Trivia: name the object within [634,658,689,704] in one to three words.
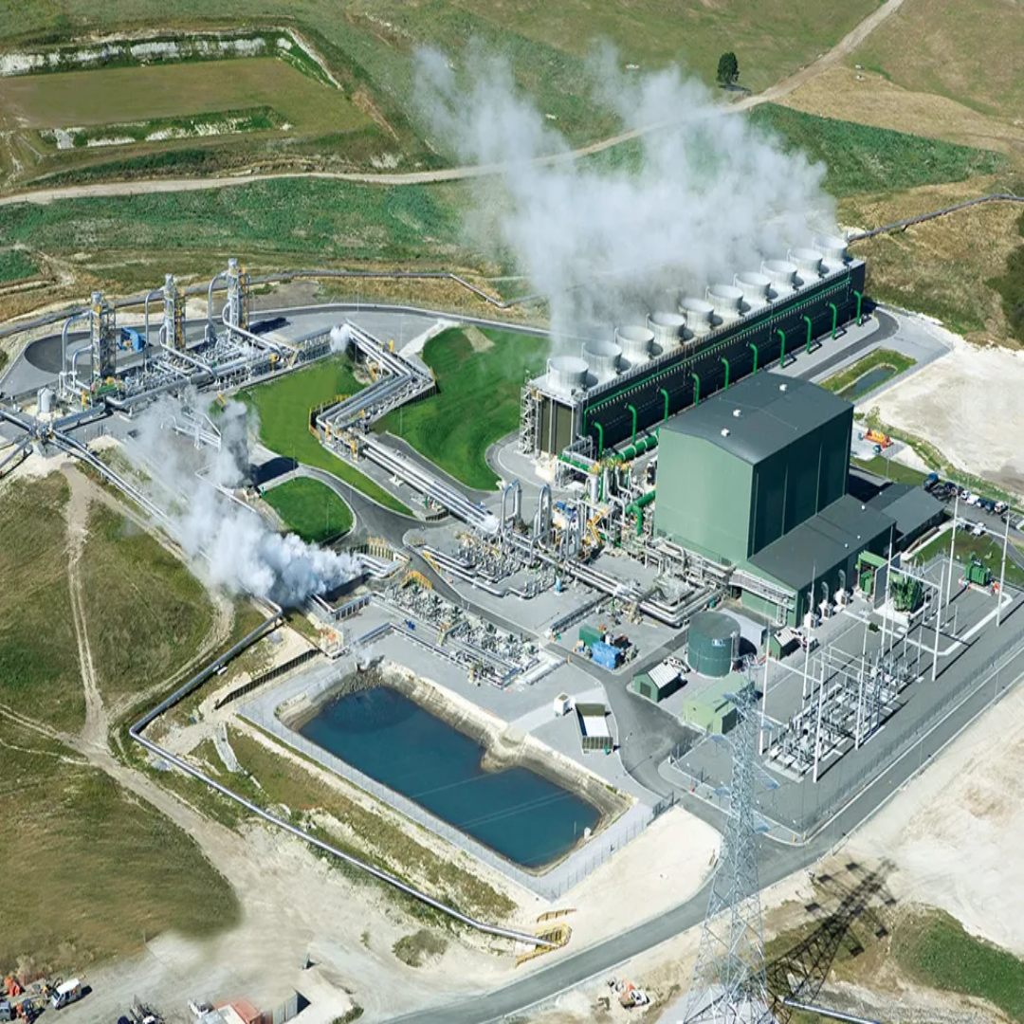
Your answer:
shed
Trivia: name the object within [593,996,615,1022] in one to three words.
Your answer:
work vehicle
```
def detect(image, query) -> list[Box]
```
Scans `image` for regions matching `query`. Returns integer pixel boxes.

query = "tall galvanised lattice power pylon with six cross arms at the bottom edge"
[693,682,790,1024]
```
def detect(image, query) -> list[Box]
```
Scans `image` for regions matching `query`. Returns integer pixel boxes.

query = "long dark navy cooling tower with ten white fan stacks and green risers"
[518,234,868,463]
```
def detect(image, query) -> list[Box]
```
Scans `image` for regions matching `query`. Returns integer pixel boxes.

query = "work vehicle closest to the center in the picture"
[612,634,629,646]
